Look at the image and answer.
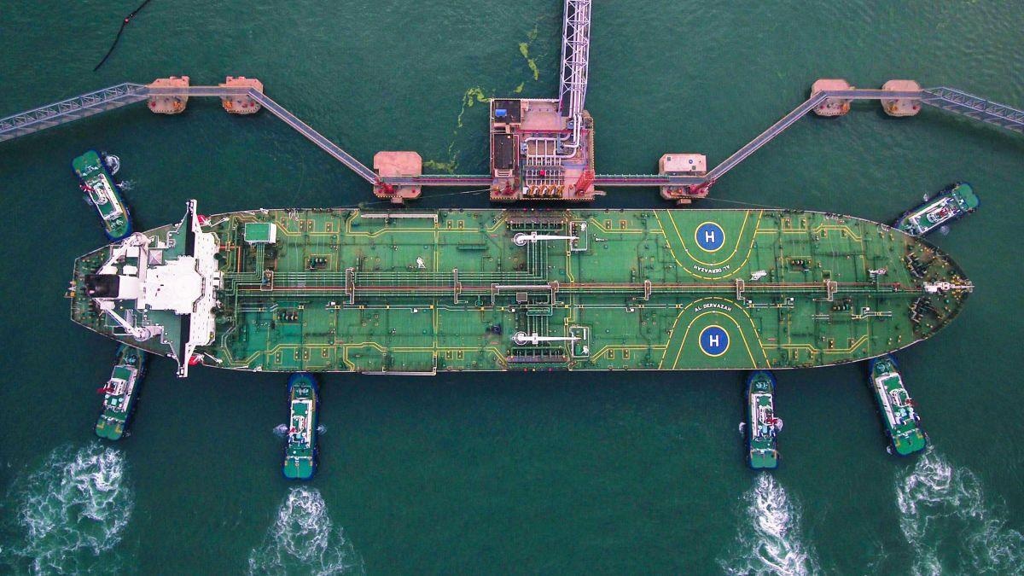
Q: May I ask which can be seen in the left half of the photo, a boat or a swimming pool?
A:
boat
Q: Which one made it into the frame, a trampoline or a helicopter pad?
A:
helicopter pad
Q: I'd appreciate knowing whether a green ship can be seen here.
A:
Yes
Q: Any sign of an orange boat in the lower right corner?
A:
No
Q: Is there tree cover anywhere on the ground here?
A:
No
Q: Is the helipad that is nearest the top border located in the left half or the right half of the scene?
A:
right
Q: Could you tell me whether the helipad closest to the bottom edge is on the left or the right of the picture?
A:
right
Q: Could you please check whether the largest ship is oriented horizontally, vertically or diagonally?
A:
horizontally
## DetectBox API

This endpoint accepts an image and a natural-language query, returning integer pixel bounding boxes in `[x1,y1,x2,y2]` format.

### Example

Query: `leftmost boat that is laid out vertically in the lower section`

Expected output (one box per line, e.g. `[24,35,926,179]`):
[93,342,146,443]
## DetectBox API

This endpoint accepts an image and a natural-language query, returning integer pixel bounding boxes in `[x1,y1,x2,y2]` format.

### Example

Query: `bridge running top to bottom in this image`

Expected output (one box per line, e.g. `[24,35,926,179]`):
[558,0,591,110]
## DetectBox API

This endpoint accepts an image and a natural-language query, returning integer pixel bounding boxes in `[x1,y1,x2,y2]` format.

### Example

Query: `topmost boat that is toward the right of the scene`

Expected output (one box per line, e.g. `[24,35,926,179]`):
[889,178,982,239]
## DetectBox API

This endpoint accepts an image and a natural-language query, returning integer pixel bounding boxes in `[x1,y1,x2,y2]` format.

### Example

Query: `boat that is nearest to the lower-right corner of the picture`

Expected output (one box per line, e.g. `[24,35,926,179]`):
[871,354,925,456]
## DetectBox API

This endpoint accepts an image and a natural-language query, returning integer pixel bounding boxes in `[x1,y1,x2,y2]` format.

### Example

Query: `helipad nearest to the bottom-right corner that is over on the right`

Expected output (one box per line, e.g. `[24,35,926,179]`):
[659,297,770,368]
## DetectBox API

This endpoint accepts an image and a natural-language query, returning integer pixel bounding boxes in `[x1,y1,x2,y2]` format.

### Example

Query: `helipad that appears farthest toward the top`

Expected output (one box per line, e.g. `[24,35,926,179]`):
[654,210,763,279]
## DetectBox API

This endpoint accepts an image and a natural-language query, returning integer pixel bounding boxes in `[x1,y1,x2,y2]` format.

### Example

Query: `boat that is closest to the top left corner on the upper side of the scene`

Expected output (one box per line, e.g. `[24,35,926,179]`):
[68,148,135,245]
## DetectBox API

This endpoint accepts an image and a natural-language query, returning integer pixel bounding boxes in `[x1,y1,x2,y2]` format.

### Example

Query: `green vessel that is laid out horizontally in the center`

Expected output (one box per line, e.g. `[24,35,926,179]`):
[63,200,976,377]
